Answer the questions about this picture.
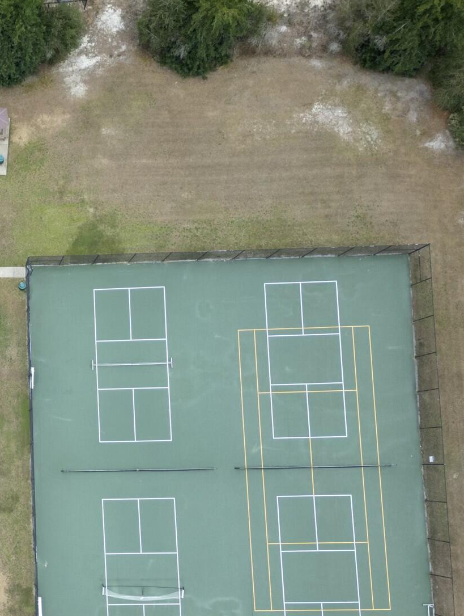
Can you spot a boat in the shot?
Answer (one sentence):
No, there isn't any boat down there.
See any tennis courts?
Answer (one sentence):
Yes, a tennis court is visible in the scene.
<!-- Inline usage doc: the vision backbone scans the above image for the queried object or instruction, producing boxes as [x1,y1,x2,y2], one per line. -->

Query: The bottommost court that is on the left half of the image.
[102,497,182,616]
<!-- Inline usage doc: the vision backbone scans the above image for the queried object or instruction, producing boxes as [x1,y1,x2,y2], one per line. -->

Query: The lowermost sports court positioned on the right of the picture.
[277,495,361,616]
